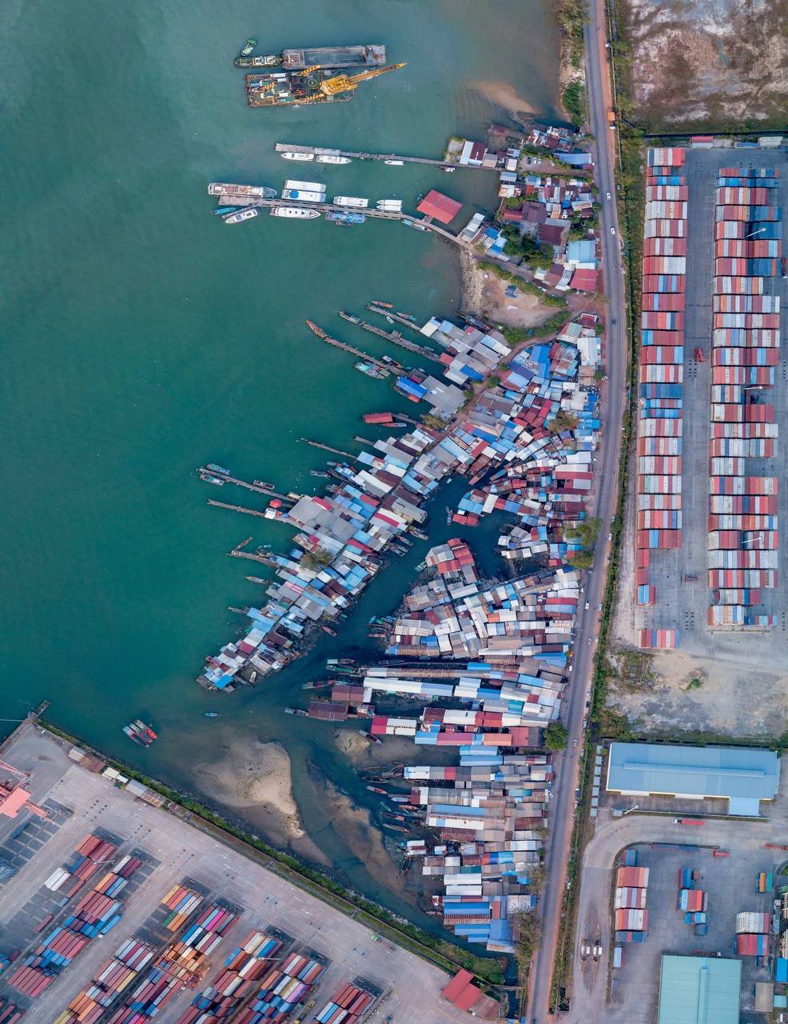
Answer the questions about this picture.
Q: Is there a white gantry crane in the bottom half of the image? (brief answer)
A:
No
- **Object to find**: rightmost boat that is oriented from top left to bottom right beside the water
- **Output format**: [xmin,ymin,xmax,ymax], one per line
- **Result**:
[466,316,490,332]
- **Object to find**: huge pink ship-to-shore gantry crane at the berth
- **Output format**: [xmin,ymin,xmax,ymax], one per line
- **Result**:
[0,739,54,825]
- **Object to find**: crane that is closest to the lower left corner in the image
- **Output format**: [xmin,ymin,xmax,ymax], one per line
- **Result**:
[154,941,206,987]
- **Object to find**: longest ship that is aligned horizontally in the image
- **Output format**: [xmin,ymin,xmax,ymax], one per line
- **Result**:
[246,61,408,106]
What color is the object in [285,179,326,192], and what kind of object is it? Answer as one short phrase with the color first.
white boat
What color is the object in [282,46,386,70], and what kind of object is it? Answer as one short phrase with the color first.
gray ship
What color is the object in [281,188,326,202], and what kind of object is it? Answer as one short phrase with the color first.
white boat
